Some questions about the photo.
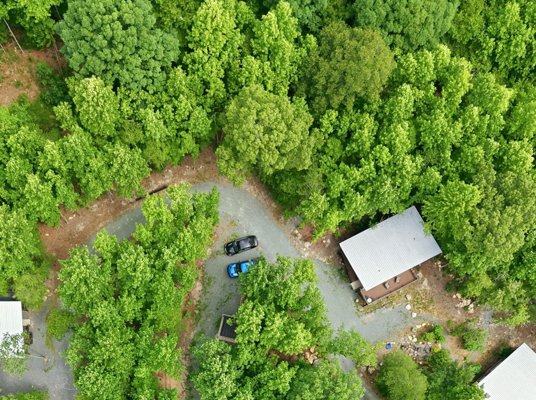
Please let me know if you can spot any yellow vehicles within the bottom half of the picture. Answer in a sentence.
No, the scene shows no yellow vehicle within the bottom half of the picture.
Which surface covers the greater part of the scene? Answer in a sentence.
For the most part, this view shows trees.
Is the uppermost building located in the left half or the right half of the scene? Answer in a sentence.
You can find the uppermost building on the right side of the picture.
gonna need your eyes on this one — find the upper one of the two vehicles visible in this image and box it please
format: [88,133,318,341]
[223,235,260,257]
